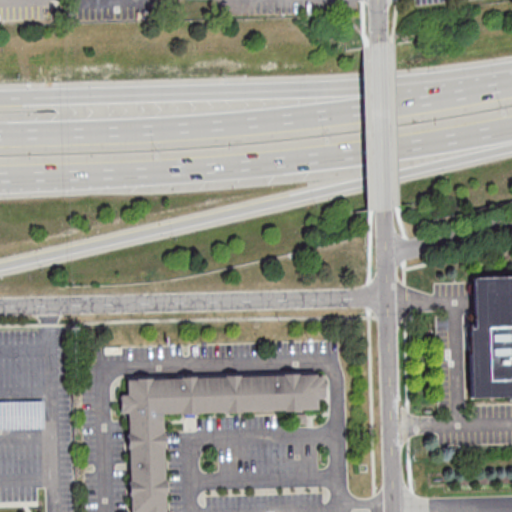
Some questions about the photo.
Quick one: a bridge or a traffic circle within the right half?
bridge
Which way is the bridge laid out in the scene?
up and down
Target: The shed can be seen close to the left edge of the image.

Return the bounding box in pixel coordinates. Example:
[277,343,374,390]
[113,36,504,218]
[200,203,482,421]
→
[0,402,46,430]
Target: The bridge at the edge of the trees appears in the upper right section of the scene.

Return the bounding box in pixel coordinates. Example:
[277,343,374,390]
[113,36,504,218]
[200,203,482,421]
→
[350,42,414,212]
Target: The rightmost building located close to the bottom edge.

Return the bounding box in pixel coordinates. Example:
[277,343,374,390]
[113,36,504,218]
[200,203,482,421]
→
[124,373,327,512]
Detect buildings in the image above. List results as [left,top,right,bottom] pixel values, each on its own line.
[472,277,512,400]
[124,373,327,512]
[0,402,46,430]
